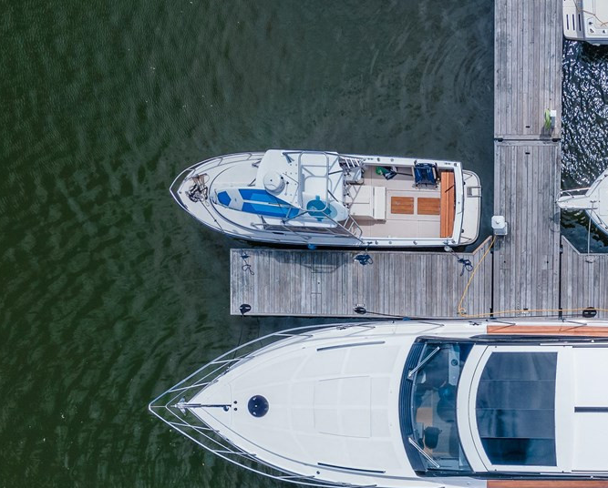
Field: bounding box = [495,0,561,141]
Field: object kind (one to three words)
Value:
pier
